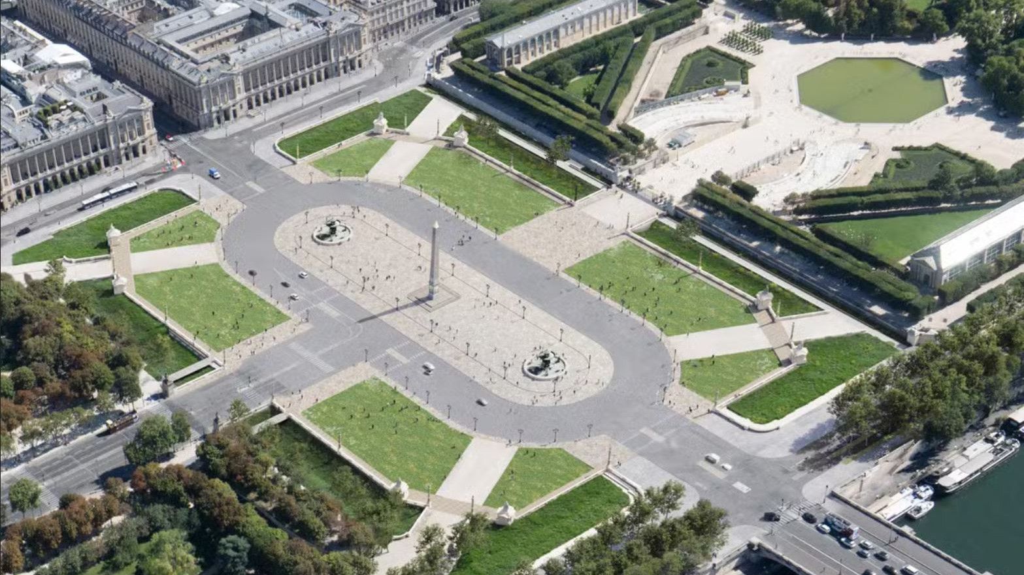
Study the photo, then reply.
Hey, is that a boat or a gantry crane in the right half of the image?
boat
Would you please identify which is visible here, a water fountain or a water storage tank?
water fountain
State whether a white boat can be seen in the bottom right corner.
Yes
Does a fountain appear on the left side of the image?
Yes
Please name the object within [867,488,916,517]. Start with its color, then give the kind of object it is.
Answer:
white boat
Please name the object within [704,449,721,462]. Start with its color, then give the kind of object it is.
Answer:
white vehicle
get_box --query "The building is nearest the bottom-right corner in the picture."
[791,343,808,369]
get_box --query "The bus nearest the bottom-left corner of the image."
[104,407,138,433]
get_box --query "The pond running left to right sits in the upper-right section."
[793,55,950,124]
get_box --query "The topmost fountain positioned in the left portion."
[312,215,352,244]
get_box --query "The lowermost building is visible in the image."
[496,501,515,530]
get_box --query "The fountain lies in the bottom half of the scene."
[522,347,567,380]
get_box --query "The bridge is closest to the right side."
[746,487,977,575]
